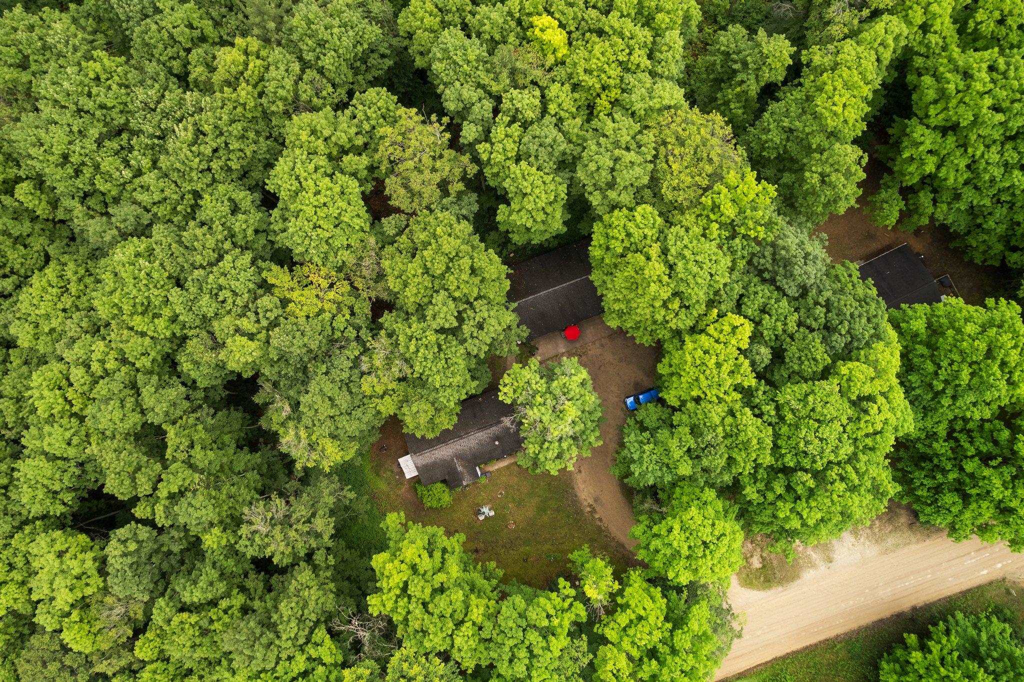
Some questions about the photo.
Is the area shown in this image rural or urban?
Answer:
rural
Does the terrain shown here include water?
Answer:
No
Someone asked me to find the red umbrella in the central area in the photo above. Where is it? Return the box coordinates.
[563,326,580,341]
